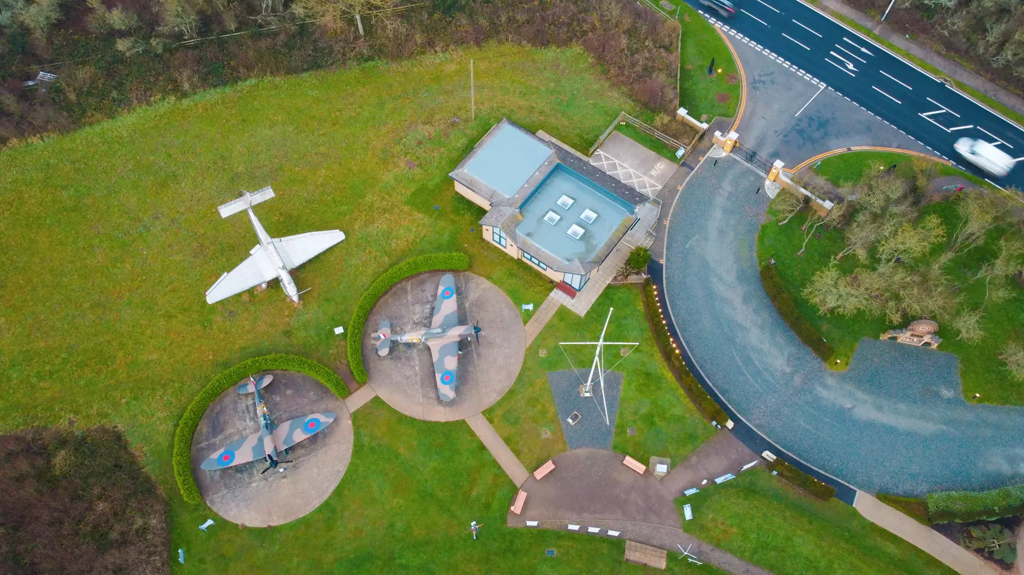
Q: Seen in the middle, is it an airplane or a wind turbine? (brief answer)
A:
airplane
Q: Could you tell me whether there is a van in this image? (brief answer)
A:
Yes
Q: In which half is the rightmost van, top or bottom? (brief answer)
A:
top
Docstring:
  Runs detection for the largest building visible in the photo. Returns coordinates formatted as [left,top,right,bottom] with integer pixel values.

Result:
[446,118,651,290]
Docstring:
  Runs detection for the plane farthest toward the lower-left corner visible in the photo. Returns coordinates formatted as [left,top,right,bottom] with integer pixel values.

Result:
[200,374,335,475]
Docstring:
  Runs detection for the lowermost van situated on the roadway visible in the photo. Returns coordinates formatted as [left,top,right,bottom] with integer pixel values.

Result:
[958,141,1022,182]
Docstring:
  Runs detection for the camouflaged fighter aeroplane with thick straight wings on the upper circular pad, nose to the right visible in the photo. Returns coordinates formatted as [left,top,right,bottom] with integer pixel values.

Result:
[371,273,481,400]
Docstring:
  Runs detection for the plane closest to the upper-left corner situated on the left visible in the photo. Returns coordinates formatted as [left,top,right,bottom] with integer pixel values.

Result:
[207,186,347,306]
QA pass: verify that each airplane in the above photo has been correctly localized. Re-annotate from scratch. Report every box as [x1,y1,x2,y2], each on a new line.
[207,186,347,306]
[371,273,481,400]
[200,374,335,475]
